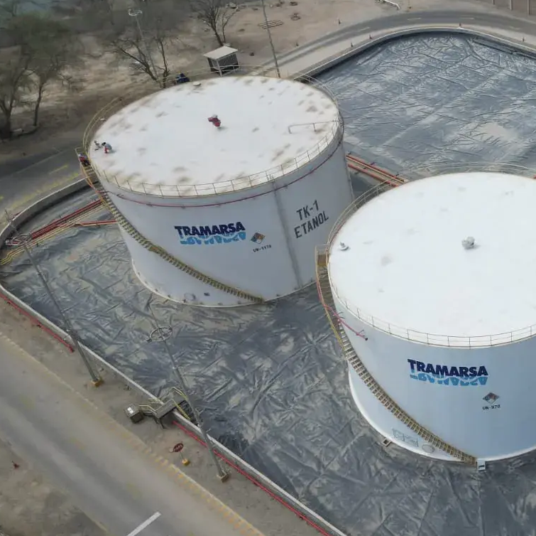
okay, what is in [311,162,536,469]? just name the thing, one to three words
storage tank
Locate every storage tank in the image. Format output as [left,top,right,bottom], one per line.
[72,68,358,307]
[311,162,536,469]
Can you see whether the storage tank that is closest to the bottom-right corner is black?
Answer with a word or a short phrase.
No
